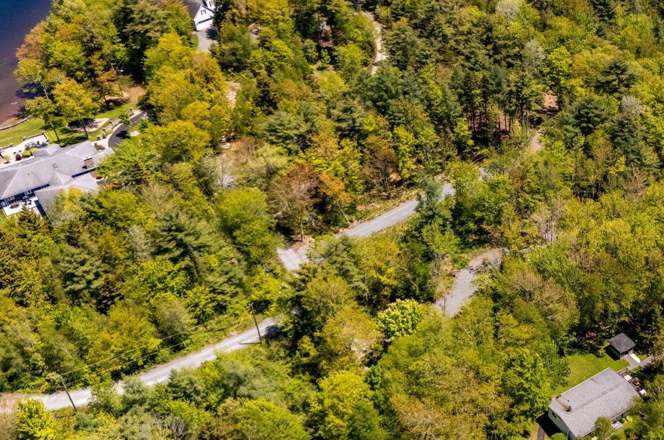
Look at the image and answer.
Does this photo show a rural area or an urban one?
rural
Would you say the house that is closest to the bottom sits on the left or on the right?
right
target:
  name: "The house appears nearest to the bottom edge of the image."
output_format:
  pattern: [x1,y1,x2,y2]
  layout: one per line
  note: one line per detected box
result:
[546,370,642,440]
